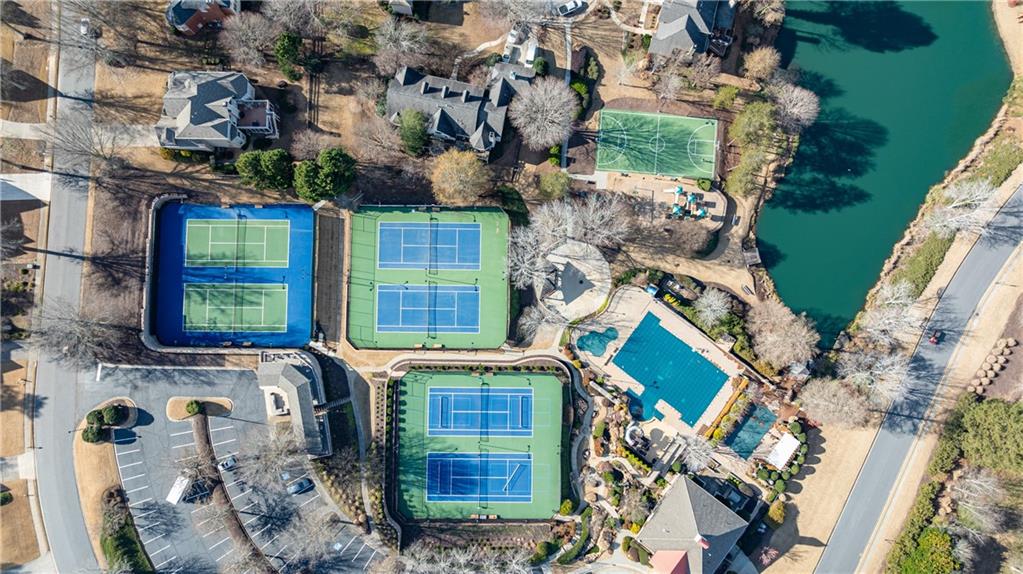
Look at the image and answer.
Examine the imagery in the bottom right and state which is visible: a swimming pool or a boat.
swimming pool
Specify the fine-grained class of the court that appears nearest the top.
basketball court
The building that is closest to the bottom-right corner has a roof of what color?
white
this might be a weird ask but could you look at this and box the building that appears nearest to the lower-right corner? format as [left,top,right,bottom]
[761,430,800,470]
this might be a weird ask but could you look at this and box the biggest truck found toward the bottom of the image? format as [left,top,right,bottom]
[161,476,187,508]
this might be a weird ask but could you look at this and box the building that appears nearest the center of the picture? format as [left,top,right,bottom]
[529,263,573,304]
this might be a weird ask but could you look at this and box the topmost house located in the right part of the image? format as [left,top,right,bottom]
[643,0,739,61]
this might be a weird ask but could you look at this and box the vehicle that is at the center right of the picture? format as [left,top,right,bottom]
[929,329,943,345]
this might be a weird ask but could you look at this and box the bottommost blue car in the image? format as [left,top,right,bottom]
[289,480,311,493]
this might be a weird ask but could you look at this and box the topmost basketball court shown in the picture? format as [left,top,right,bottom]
[597,110,717,179]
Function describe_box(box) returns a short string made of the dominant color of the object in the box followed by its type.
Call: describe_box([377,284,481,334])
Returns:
blue tennis court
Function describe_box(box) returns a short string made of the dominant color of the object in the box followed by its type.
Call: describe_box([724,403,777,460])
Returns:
blue swimming pool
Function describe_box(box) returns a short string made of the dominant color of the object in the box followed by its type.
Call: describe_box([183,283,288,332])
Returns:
green tennis court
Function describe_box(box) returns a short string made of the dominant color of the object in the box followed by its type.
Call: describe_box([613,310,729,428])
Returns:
blue swimming pool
